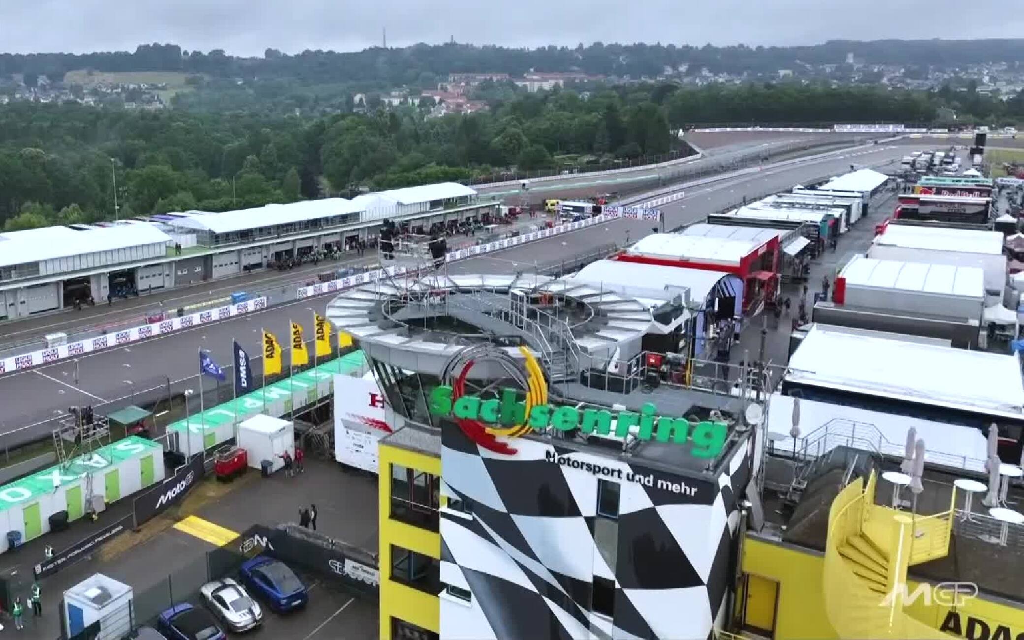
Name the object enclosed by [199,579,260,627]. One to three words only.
car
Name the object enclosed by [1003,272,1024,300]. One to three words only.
tent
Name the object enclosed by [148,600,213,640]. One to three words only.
car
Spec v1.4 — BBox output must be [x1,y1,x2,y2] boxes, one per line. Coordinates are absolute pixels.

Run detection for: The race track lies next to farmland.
[0,136,949,446]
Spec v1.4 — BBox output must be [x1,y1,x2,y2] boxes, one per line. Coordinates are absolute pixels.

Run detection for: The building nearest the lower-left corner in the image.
[60,572,136,640]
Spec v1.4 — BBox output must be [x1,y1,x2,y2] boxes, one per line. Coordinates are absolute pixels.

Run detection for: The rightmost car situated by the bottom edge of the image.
[244,559,309,609]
